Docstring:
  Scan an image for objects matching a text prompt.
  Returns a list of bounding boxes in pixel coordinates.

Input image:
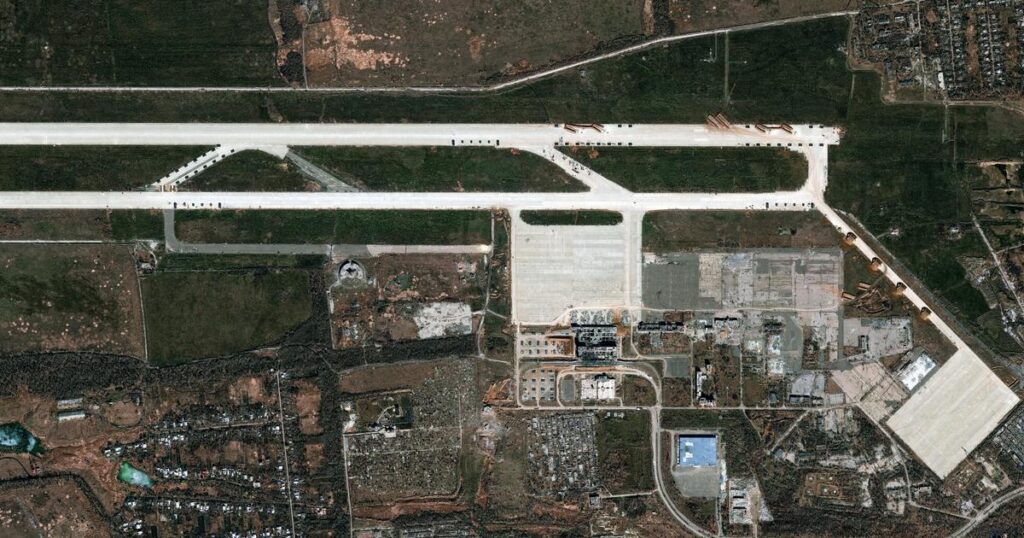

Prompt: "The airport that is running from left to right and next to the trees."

[0,123,1019,479]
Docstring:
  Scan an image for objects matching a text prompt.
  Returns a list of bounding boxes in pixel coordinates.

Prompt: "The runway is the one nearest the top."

[0,123,840,147]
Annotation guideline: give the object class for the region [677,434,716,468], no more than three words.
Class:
building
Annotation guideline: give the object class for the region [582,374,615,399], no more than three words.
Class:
building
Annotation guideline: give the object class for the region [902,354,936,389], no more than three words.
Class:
hangar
